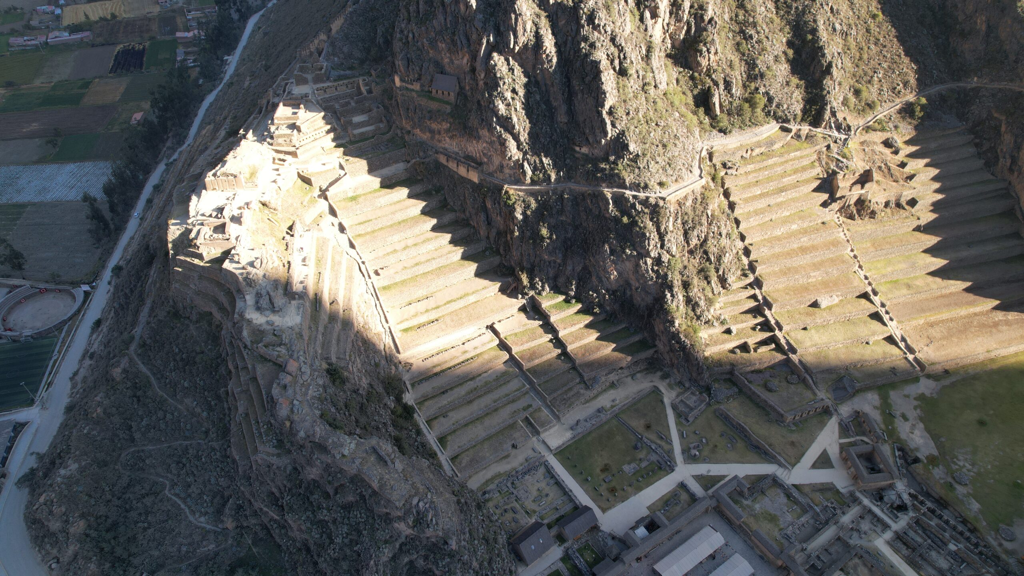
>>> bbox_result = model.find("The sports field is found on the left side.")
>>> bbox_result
[0,336,59,408]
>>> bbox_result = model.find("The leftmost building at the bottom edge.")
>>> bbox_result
[507,516,556,567]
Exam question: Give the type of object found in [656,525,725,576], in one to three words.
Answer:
house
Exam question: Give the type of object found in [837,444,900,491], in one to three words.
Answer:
house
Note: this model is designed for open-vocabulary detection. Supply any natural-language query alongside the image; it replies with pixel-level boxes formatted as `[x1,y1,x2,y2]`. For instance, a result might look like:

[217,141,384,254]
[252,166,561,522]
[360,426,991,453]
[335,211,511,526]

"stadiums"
[0,272,93,344]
